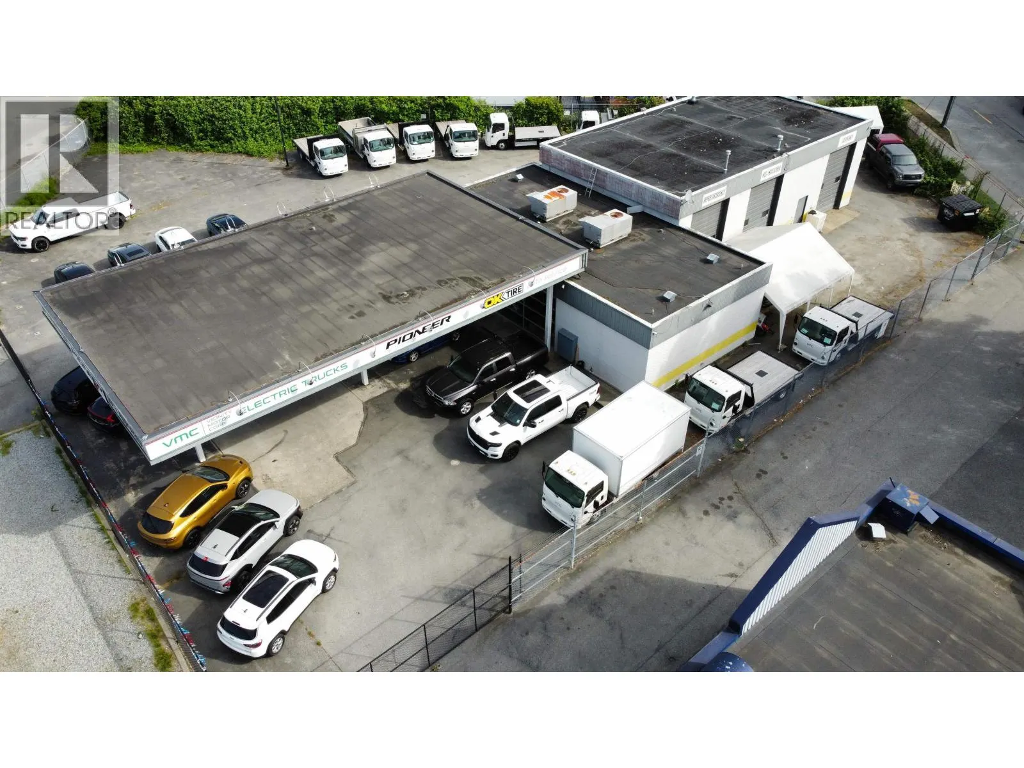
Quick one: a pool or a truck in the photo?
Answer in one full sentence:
It is a truck that can be seen here.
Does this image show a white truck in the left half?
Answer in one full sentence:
Yes, looking in the left half, one can make out a white truck.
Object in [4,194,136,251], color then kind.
white truck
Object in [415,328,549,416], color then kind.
black truck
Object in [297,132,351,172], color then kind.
white truck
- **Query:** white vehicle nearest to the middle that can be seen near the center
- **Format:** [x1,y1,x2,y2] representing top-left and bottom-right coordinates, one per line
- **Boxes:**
[458,364,602,463]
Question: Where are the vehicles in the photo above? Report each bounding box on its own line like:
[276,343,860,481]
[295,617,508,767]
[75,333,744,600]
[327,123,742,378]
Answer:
[415,328,549,416]
[795,296,895,363]
[51,258,96,286]
[430,117,482,154]
[208,213,249,238]
[51,360,102,412]
[458,364,602,463]
[297,132,351,172]
[392,326,466,361]
[184,493,301,597]
[483,115,557,151]
[543,382,694,527]
[389,118,438,156]
[216,545,338,664]
[684,351,803,432]
[160,229,201,251]
[108,243,153,269]
[4,194,136,251]
[344,113,401,163]
[136,459,252,554]
[92,394,127,430]
[861,135,923,188]
[573,110,612,136]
